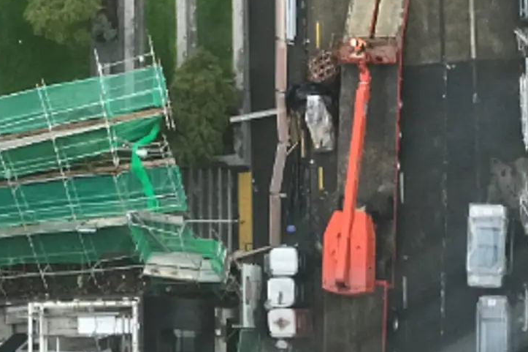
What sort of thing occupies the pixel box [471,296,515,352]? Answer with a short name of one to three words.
car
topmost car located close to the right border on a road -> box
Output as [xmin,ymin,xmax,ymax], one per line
[464,206,512,287]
